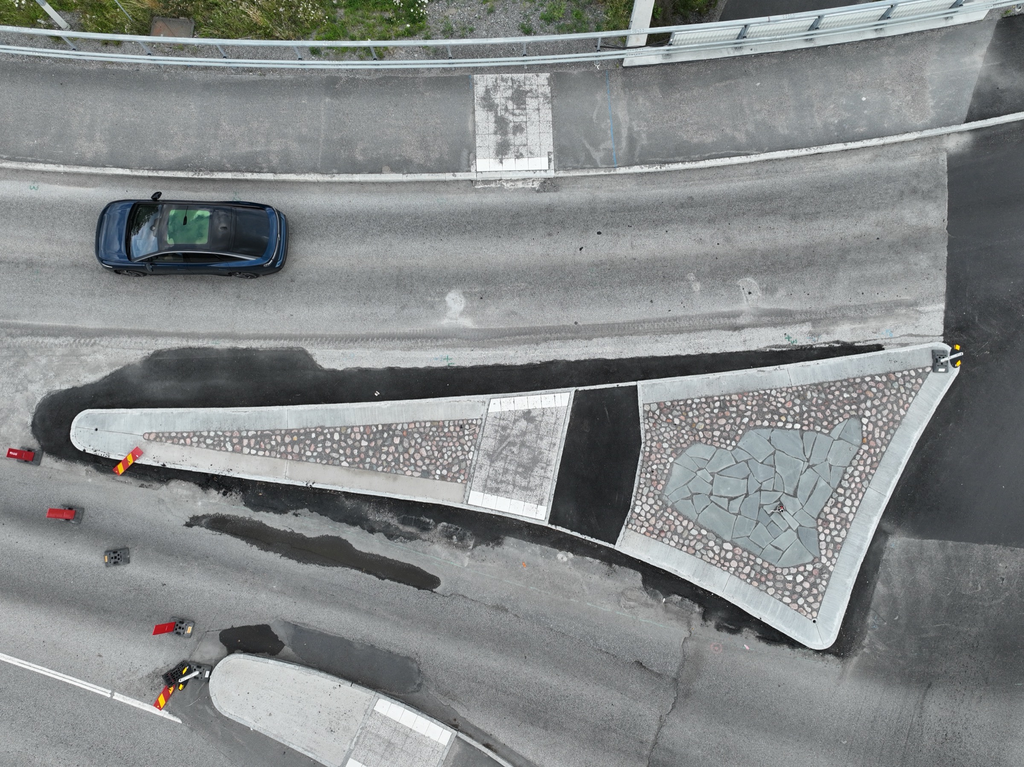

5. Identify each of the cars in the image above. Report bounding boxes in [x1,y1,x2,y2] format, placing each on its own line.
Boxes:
[93,189,290,279]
